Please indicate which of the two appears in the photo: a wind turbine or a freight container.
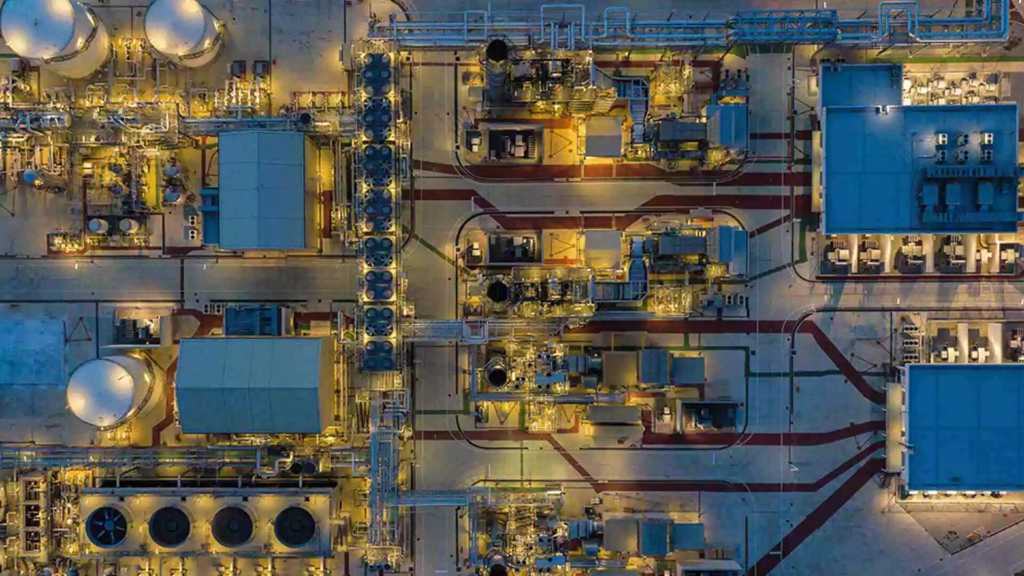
wind turbine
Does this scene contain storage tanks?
Yes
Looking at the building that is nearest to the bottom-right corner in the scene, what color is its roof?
blue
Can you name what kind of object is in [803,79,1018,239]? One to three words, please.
building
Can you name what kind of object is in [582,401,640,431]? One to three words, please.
shed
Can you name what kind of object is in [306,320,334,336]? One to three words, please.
shed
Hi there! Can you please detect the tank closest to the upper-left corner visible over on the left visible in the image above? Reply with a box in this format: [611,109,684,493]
[0,0,110,77]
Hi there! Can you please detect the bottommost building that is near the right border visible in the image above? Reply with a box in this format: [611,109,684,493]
[876,360,1024,497]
